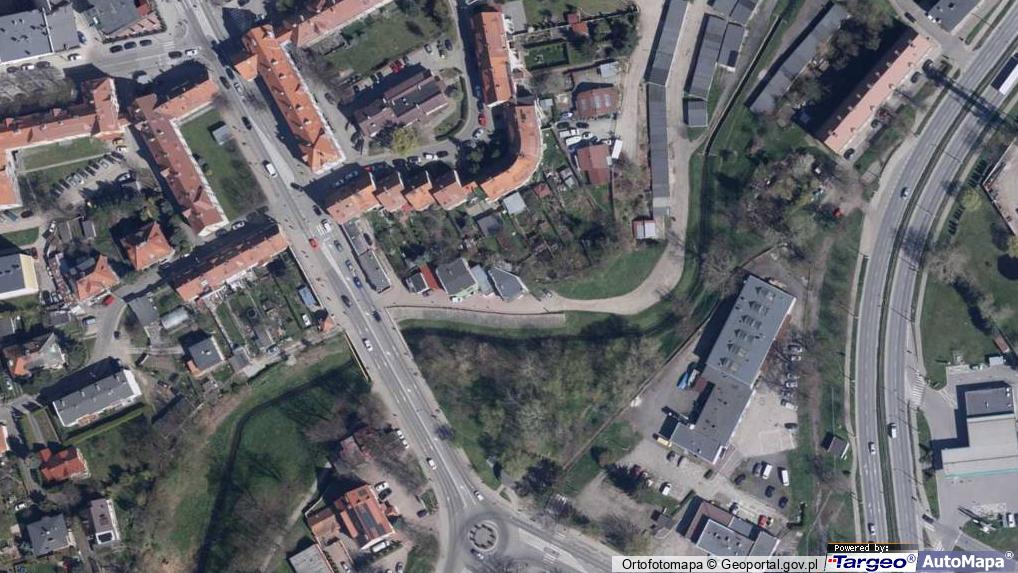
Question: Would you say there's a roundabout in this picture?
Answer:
Yes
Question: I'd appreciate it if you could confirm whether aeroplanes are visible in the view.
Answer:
No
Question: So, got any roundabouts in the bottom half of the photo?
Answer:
Yes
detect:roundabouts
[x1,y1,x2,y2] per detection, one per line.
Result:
[451,505,514,568]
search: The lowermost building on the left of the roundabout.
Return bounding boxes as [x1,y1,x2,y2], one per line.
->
[289,544,334,573]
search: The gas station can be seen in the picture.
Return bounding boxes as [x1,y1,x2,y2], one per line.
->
[941,388,1018,478]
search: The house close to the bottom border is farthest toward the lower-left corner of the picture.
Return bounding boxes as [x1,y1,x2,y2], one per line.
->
[27,515,76,555]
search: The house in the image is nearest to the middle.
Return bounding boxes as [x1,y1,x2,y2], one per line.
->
[489,267,529,302]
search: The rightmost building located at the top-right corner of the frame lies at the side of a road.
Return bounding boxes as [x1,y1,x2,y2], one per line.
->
[929,0,985,35]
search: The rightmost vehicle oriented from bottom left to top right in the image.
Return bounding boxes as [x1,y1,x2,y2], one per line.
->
[996,62,1018,92]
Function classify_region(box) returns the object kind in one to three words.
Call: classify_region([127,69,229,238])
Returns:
house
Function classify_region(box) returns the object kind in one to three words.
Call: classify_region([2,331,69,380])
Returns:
house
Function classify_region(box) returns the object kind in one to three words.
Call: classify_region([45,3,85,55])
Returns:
building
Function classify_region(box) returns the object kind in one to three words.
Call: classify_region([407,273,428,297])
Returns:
shed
